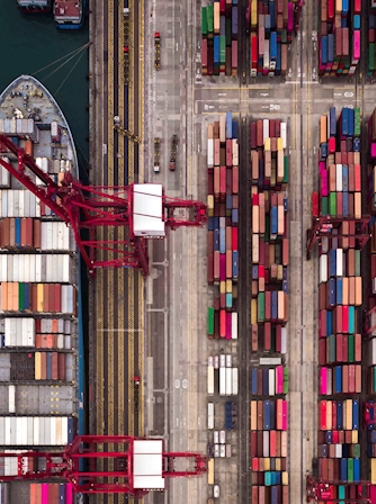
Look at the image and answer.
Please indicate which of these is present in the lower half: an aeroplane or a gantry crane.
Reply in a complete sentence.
It is a gantry crane that can be seen in the lower half.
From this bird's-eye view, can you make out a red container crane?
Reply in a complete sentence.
Yes, a red container crane is visible in the scene.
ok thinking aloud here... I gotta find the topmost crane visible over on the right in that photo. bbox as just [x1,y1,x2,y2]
[308,212,372,252]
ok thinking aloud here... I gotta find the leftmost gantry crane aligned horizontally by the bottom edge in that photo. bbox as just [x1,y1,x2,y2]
[0,428,208,495]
